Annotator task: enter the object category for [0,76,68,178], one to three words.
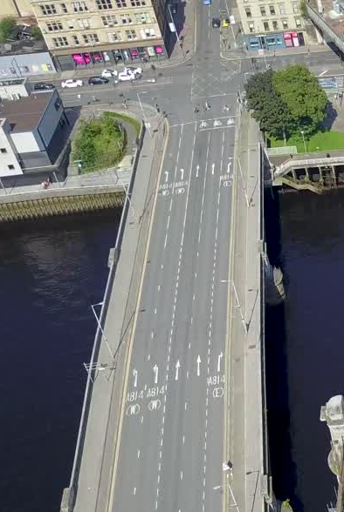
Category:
building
